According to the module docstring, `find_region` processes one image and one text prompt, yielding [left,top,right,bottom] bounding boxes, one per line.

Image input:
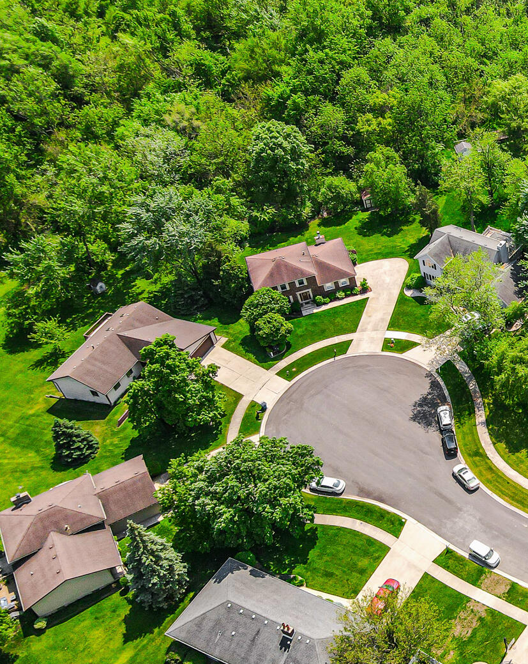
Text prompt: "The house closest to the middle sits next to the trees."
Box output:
[245,231,353,312]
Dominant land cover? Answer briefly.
trees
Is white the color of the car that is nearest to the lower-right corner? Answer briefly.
Yes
